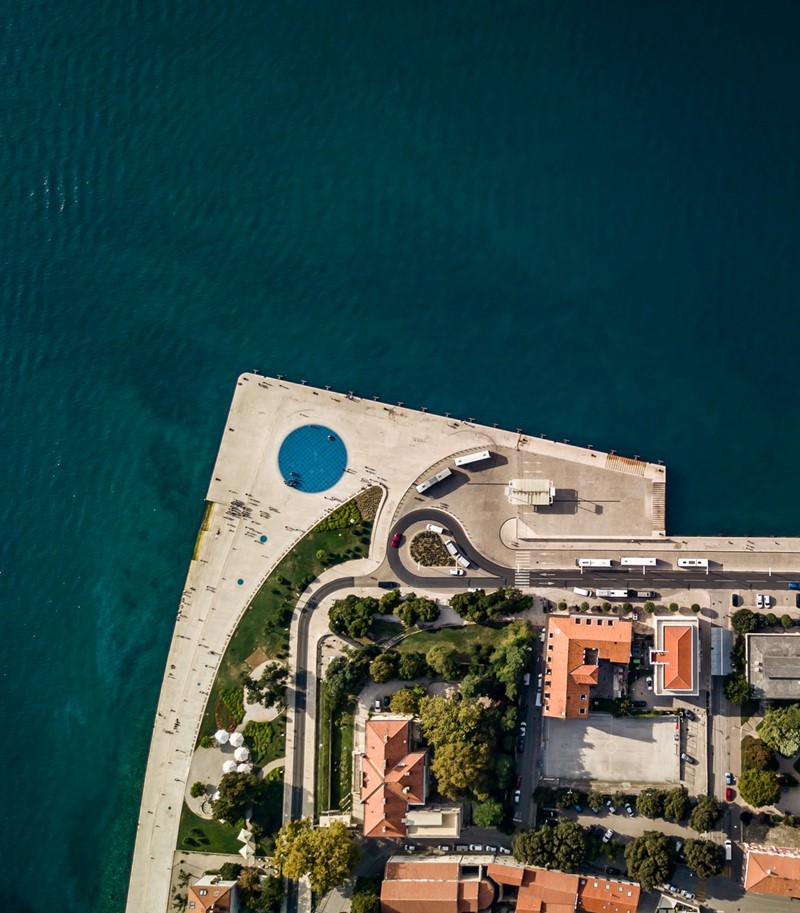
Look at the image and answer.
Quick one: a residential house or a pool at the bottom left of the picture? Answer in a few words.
residential house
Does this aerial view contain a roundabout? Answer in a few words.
Yes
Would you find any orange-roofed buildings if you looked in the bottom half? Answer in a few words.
Yes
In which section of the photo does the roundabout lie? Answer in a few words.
center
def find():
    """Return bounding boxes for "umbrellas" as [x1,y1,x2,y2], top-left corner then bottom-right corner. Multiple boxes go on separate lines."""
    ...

[235,746,249,761]
[237,761,252,775]
[236,827,253,843]
[238,843,255,860]
[229,732,243,746]
[215,728,229,743]
[223,759,237,773]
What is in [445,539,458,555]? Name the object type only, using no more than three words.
vehicle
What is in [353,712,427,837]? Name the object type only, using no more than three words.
house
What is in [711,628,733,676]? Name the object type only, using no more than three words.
shed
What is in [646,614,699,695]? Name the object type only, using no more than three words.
building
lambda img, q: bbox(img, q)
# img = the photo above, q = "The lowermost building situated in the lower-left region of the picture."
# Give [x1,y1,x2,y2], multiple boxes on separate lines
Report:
[188,879,243,913]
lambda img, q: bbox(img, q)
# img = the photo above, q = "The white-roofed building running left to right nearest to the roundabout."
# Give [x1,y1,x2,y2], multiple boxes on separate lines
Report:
[466,480,562,504]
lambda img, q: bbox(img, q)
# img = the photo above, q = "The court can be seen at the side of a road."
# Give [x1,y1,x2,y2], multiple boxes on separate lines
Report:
[542,718,681,784]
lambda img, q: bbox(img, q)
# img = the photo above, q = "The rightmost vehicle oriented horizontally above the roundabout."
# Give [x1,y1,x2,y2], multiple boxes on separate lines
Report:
[455,450,492,466]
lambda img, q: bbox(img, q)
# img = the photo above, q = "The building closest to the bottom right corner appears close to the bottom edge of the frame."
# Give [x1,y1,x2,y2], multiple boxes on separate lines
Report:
[738,843,800,901]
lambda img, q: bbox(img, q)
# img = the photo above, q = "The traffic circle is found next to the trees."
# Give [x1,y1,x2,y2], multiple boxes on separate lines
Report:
[387,506,514,588]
